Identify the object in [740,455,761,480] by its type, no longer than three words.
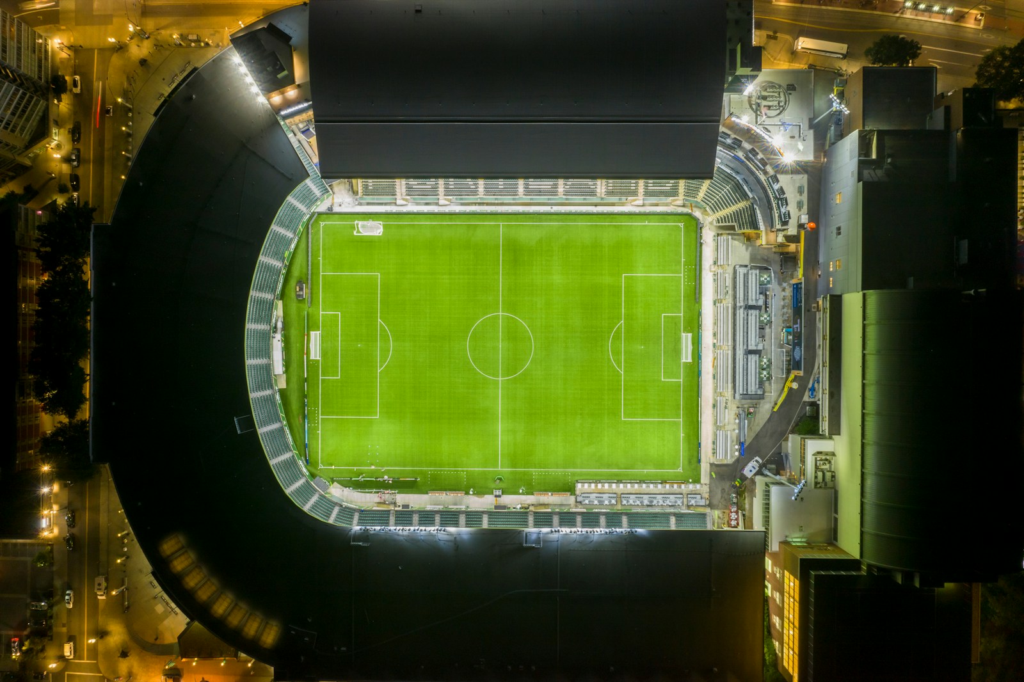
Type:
vehicle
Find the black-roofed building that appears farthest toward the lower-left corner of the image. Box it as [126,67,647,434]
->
[0,468,53,545]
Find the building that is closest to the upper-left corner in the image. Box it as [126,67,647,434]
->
[0,4,49,89]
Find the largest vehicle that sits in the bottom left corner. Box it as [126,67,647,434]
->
[92,575,107,600]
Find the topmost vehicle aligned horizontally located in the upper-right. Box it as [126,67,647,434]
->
[796,38,850,57]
